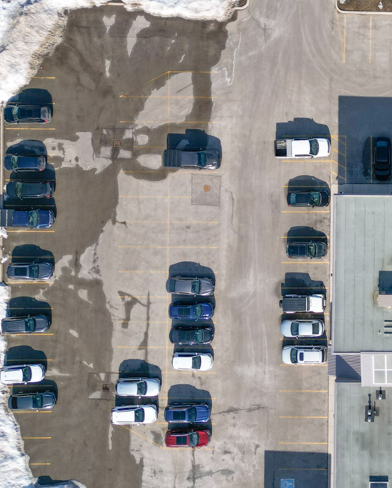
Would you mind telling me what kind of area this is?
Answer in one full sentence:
The area seen from above is a parking lot.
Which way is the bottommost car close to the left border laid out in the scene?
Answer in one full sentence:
I'd say the bottommost car close to the left border is aligned from left to right in the picture.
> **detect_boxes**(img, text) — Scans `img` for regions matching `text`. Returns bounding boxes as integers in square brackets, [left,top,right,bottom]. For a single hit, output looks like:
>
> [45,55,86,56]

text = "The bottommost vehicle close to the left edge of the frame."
[6,390,58,413]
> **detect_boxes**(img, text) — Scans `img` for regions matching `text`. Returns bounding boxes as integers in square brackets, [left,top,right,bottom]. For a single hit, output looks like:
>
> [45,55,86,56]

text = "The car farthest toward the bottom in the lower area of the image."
[164,427,211,451]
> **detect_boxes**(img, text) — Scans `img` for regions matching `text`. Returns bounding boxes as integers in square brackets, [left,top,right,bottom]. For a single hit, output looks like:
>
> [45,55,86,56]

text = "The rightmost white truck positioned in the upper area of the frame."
[273,136,331,160]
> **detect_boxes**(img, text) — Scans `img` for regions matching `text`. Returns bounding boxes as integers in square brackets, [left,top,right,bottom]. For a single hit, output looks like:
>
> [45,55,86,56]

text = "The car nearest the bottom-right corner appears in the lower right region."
[282,344,326,367]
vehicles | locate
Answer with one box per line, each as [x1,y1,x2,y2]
[110,403,159,426]
[168,325,214,347]
[280,295,325,314]
[164,427,211,451]
[286,239,328,261]
[273,136,331,160]
[3,151,46,173]
[5,260,55,282]
[162,148,222,171]
[282,344,326,367]
[163,402,211,426]
[287,188,330,210]
[114,377,161,400]
[167,300,214,322]
[0,207,56,230]
[6,390,58,413]
[3,103,51,125]
[0,362,46,385]
[281,318,325,340]
[0,313,53,336]
[165,276,214,298]
[371,137,392,179]
[171,352,213,373]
